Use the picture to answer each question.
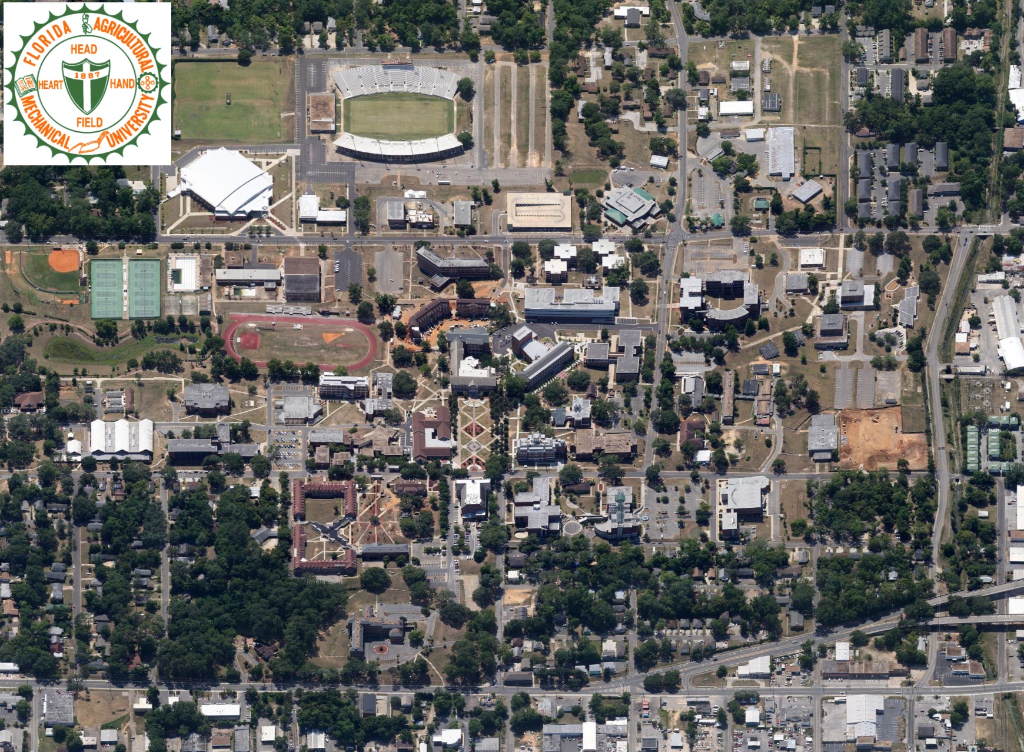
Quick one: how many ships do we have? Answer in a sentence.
There are no ships in the image.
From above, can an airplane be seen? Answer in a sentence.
No, there appears to be no airplane in this shot.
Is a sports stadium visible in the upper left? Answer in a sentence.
Yes, you'll find a sports stadium in the upper left.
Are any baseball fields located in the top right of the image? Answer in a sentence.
No, no baseball field is visible in the top right of the image.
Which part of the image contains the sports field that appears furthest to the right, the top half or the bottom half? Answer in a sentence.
The sports field that appears furthest to the right sits in the top half of the picture.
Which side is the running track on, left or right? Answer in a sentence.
You can find the running track on the left side of the picture.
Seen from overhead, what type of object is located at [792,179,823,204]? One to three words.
building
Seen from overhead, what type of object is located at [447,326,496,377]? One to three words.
building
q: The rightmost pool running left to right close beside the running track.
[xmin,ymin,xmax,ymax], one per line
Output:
[224,286,285,300]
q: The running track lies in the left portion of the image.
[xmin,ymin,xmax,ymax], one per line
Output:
[223,314,376,371]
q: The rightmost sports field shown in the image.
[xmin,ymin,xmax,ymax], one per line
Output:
[343,92,454,141]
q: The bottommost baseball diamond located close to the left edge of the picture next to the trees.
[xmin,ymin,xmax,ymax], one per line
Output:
[19,249,82,294]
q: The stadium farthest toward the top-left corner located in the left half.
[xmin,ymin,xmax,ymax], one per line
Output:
[168,147,273,222]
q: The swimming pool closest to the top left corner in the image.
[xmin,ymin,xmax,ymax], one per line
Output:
[167,254,200,291]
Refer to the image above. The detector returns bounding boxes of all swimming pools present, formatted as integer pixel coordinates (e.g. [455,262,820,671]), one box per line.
[167,254,200,291]
[224,286,285,300]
